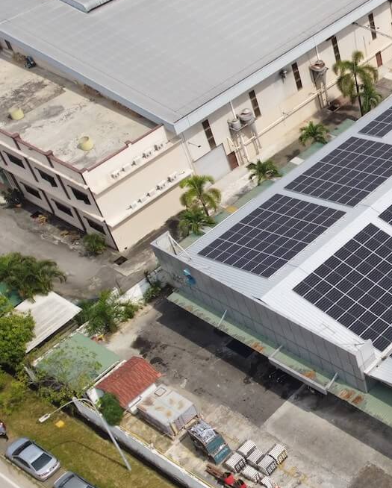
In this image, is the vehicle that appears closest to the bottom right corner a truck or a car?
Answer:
truck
